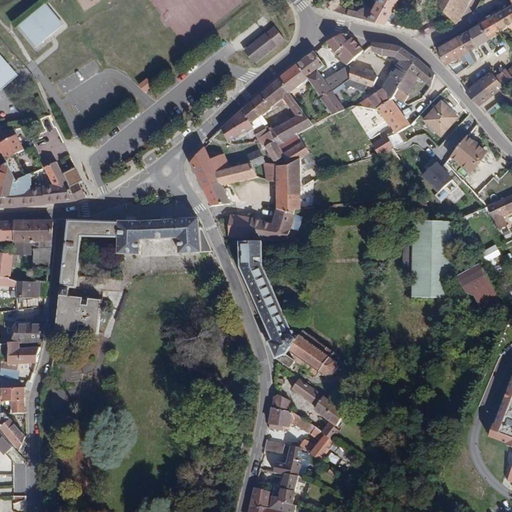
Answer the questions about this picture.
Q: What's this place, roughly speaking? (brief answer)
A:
residential area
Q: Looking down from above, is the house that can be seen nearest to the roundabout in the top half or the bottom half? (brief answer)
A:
top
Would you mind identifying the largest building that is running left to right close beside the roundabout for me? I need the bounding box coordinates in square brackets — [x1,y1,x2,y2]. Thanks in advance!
[116,216,200,254]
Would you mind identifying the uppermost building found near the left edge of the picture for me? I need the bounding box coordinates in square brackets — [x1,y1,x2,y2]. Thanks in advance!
[12,0,63,47]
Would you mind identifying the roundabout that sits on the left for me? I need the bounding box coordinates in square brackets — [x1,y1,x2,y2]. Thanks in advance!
[142,150,186,194]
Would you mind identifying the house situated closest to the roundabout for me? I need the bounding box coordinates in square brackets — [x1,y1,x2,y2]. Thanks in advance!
[188,146,232,205]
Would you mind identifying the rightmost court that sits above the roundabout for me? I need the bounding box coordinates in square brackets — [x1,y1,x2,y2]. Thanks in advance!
[151,0,244,37]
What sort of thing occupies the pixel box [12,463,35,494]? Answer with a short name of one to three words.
house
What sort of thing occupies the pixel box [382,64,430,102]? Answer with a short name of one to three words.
house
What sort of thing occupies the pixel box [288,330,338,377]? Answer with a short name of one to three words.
building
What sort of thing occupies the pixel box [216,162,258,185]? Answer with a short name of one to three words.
barn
